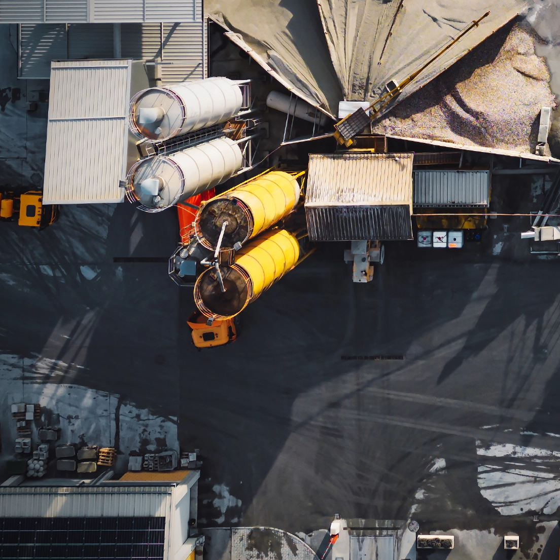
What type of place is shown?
industrial area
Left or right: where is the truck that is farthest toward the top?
left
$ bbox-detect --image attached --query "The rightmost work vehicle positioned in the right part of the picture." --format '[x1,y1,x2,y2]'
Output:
[342,241,382,288]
